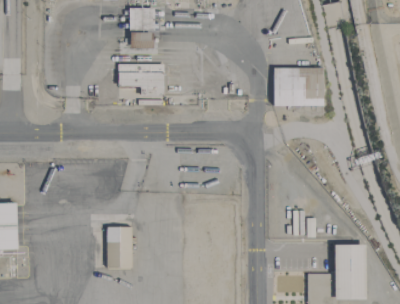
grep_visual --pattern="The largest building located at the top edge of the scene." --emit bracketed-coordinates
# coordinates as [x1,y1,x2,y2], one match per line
[129,8,156,31]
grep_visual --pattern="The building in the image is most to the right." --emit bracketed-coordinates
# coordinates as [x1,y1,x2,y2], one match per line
[336,245,368,301]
